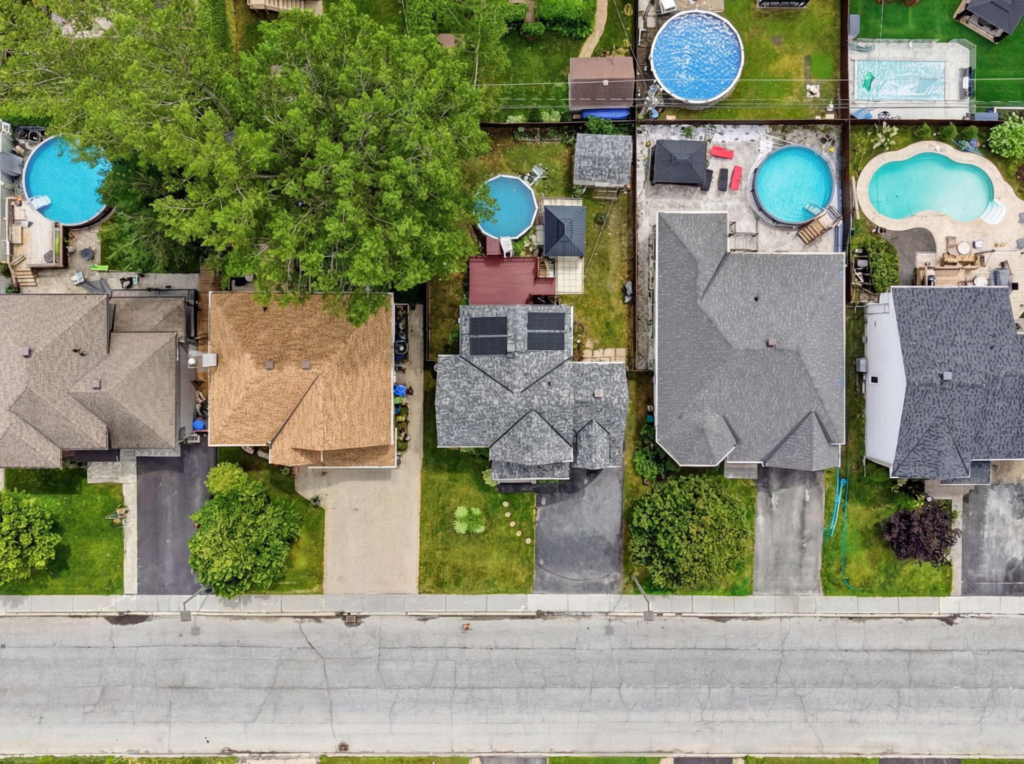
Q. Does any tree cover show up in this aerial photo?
Yes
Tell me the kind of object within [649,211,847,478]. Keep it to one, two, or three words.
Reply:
house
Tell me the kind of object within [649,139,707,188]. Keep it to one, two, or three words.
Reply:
gazebo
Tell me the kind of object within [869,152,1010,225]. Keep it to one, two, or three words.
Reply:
swimming pool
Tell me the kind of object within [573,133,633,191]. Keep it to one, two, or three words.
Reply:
shed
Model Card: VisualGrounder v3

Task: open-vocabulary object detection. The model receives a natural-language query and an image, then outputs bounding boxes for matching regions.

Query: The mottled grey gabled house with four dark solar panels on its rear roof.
[435,304,629,484]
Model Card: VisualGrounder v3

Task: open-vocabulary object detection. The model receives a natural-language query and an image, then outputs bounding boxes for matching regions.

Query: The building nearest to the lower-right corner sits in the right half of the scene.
[858,285,1024,485]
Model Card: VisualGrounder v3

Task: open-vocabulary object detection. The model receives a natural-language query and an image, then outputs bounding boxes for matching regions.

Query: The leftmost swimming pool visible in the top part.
[22,137,122,227]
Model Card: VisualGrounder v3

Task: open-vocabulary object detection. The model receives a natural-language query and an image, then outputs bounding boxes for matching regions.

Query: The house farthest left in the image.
[0,289,208,469]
